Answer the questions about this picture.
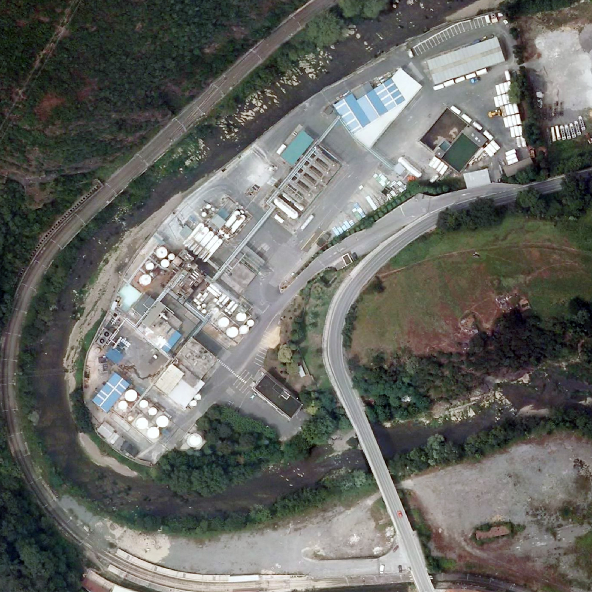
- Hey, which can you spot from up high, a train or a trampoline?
train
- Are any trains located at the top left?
No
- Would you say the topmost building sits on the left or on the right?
right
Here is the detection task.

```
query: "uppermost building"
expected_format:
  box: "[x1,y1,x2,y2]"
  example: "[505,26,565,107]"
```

[427,36,504,86]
